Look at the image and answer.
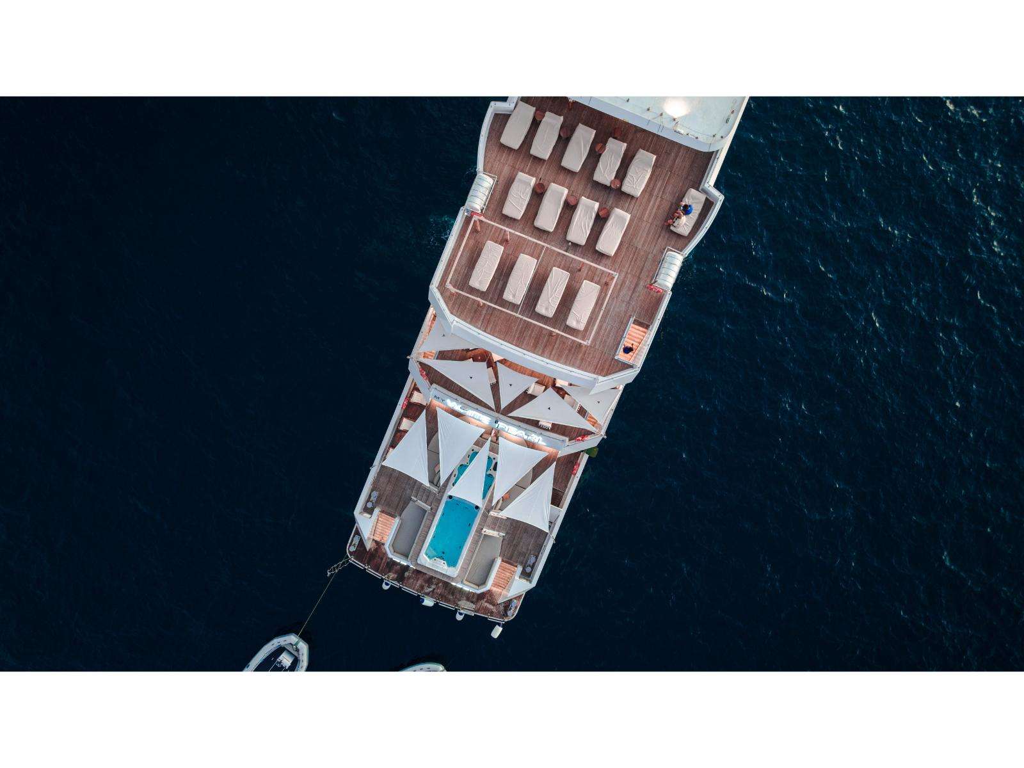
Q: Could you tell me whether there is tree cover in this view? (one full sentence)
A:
No, there is no tree cover in the image.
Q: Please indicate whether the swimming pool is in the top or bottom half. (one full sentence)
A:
You can find the swimming pool in the bottom half.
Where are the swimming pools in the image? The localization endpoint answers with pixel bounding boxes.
[418,445,498,576]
